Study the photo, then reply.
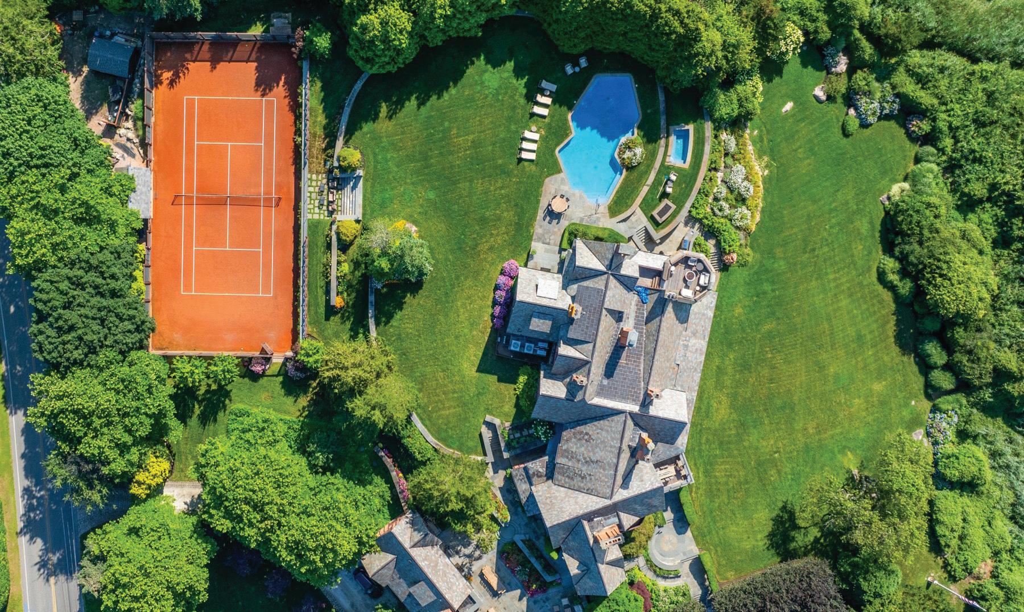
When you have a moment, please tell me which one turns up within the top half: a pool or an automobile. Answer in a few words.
pool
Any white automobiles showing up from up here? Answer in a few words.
No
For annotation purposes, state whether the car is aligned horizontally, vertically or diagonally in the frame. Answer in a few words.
diagonally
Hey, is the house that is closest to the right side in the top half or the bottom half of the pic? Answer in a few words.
bottom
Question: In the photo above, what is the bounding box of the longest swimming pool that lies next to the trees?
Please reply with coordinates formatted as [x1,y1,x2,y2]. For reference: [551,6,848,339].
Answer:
[557,71,642,207]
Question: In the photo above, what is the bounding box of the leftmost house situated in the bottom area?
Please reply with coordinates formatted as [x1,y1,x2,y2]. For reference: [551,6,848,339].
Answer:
[361,503,484,612]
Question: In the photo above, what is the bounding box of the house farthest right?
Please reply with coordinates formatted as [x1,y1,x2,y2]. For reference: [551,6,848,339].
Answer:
[495,240,717,596]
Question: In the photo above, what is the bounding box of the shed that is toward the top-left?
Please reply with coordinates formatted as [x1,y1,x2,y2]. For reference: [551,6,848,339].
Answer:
[88,37,147,81]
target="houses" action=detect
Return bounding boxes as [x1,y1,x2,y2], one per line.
[361,503,484,612]
[495,240,717,596]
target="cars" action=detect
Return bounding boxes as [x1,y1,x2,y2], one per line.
[348,566,384,605]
